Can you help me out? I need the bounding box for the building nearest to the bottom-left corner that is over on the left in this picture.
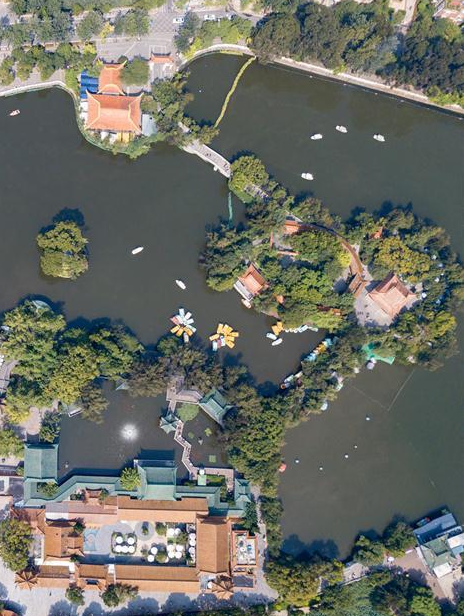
[14,567,37,593]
